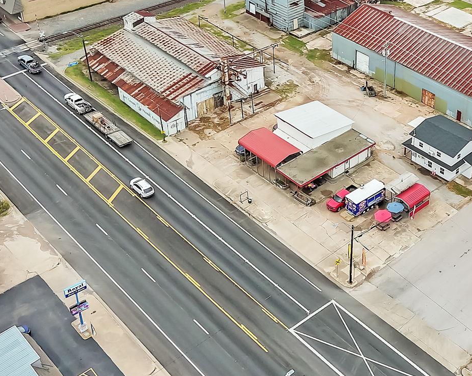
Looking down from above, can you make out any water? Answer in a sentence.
No, there's no water in this view.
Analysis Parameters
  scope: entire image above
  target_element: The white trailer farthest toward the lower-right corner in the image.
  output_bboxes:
[344,180,384,216]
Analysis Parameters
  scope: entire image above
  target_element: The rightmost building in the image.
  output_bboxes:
[402,114,472,182]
